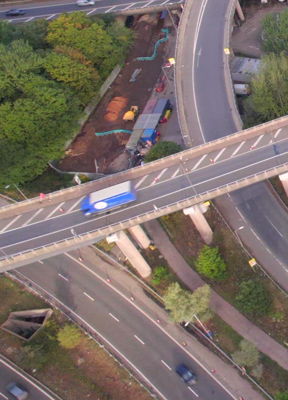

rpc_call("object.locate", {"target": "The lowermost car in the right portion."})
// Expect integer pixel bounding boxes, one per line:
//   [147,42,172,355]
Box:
[175,362,197,386]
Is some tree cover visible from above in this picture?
Yes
